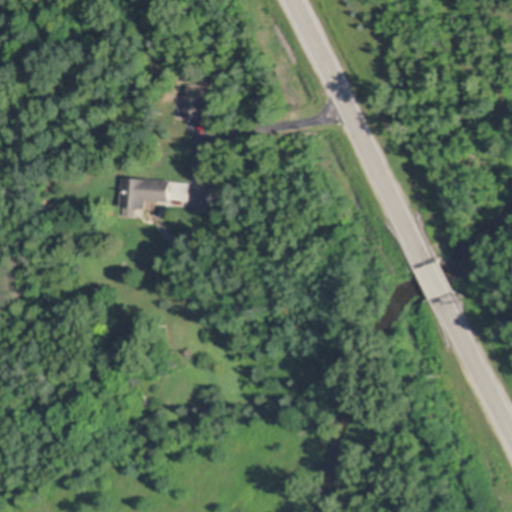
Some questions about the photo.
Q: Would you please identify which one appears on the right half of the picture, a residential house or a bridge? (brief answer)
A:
bridge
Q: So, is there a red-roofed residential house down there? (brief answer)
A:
No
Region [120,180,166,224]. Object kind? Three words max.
house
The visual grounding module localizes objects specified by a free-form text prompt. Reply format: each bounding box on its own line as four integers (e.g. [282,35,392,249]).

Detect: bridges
[410,248,458,314]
